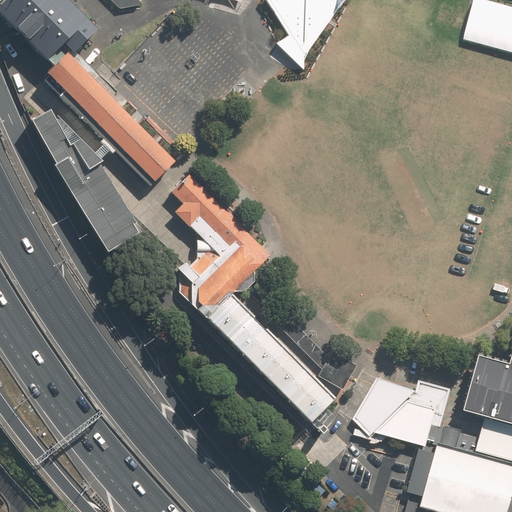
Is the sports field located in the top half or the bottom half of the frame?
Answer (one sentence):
The top half of the photo is where the sports field is.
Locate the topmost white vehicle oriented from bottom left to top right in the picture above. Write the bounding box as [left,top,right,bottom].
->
[86,48,100,64]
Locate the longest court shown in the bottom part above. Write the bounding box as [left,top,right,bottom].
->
[262,312,330,374]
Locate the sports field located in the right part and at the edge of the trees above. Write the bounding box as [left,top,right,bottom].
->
[214,0,512,345]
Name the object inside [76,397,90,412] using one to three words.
vehicle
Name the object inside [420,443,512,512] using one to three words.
building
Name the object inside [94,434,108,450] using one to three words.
vehicle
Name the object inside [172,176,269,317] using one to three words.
building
